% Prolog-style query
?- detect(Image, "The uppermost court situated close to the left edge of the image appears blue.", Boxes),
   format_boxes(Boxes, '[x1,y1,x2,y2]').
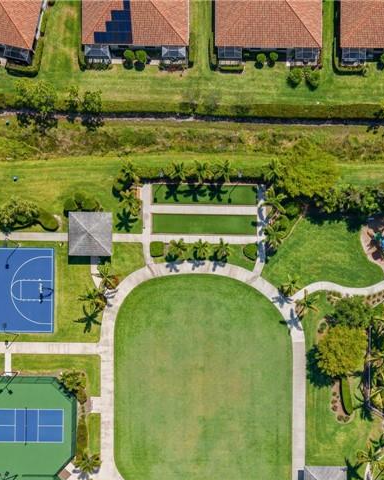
[0,248,54,332]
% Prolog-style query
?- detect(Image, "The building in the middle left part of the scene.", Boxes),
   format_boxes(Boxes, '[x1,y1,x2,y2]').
[68,211,114,257]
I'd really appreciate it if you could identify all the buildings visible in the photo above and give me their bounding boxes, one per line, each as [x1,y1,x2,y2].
[340,0,384,73]
[0,0,45,72]
[68,211,114,257]
[81,0,189,71]
[215,0,322,73]
[304,466,347,480]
